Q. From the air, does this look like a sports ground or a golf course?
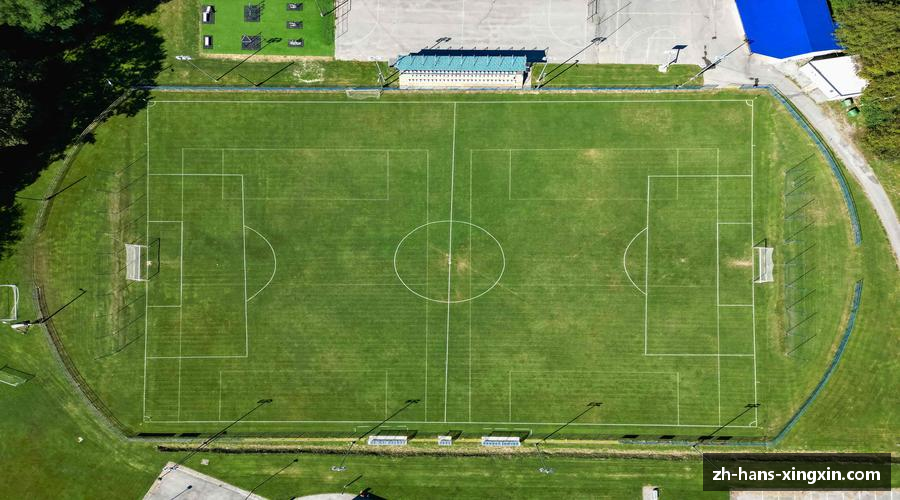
sports ground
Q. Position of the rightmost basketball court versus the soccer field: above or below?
above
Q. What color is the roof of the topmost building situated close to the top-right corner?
blue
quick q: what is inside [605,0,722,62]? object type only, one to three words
basketball court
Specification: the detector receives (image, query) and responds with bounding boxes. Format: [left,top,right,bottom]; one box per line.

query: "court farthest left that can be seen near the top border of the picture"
[337,0,586,61]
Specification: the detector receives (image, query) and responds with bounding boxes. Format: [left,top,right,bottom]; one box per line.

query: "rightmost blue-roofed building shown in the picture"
[730,0,843,63]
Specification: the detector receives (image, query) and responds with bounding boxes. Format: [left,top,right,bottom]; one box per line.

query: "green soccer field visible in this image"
[144,100,759,434]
